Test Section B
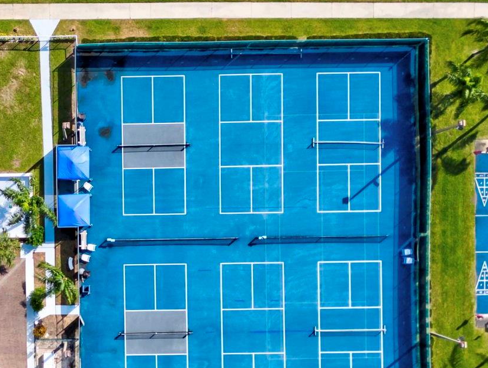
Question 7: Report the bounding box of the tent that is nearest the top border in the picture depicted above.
[59,147,90,182]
